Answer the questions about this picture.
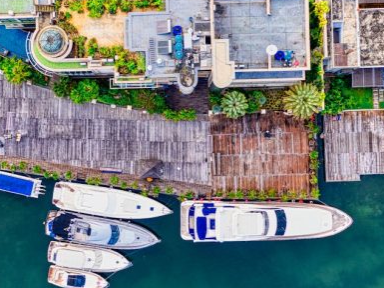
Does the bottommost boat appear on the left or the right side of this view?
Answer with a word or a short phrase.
left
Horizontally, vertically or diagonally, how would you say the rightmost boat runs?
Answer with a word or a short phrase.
horizontally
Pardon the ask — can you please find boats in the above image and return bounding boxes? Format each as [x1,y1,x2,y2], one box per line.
[46,264,110,288]
[181,201,355,243]
[44,240,133,271]
[0,171,48,199]
[42,210,160,248]
[50,180,173,219]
